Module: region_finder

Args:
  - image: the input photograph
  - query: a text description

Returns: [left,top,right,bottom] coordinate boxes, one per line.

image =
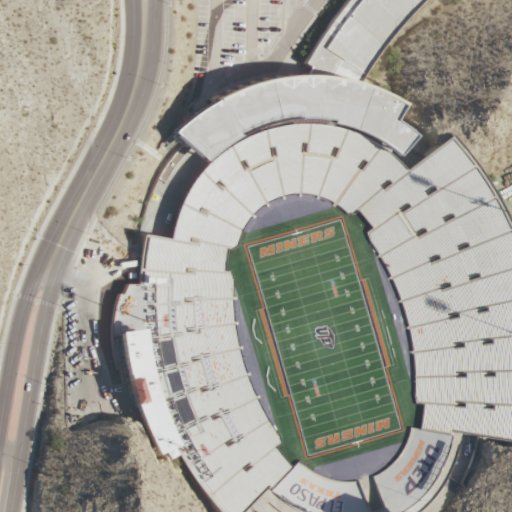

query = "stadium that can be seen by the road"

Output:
[113,74,512,512]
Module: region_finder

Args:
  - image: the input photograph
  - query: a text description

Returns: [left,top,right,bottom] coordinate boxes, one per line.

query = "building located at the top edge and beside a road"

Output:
[308,0,426,80]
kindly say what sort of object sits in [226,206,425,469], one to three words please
sports field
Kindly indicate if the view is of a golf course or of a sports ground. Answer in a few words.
sports ground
